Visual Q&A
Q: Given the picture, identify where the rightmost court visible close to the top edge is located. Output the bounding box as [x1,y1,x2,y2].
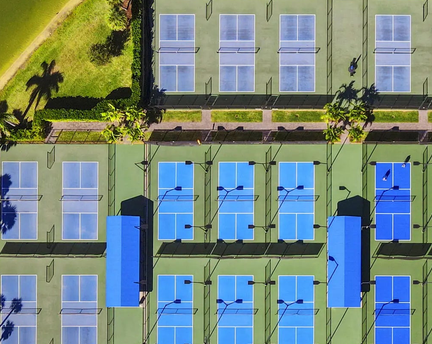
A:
[376,15,411,92]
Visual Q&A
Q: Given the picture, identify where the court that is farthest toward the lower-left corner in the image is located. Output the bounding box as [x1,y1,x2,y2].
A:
[1,275,37,344]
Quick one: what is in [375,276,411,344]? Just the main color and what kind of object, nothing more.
blue sports court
